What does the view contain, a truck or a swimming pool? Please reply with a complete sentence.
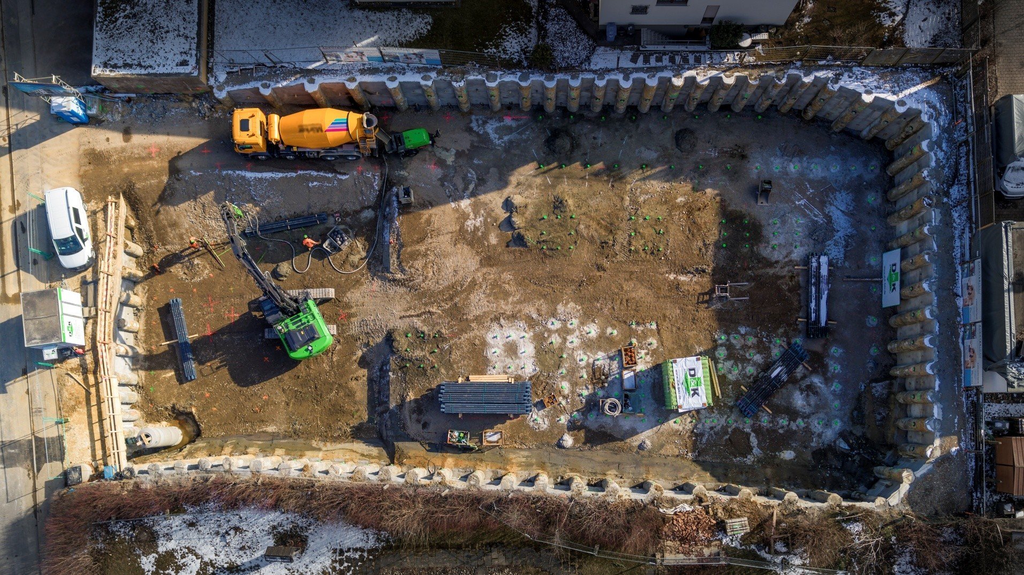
Of the two, only a truck appears.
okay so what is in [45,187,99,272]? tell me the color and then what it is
white van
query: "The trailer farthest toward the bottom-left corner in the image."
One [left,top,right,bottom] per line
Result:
[22,287,86,369]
